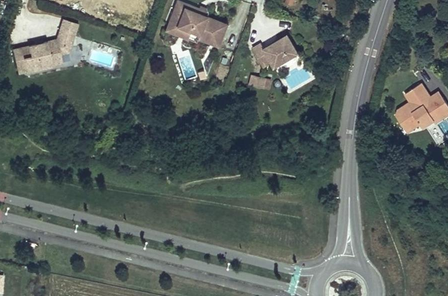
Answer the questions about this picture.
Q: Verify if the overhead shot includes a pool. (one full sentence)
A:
Yes, a pool appears in the view.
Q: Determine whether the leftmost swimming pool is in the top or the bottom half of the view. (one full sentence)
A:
It is in the top half that the leftmost swimming pool appears.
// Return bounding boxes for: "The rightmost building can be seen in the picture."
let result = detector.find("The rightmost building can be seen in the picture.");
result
[395,83,448,134]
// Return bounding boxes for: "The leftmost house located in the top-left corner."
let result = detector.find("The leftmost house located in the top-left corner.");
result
[12,18,78,74]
